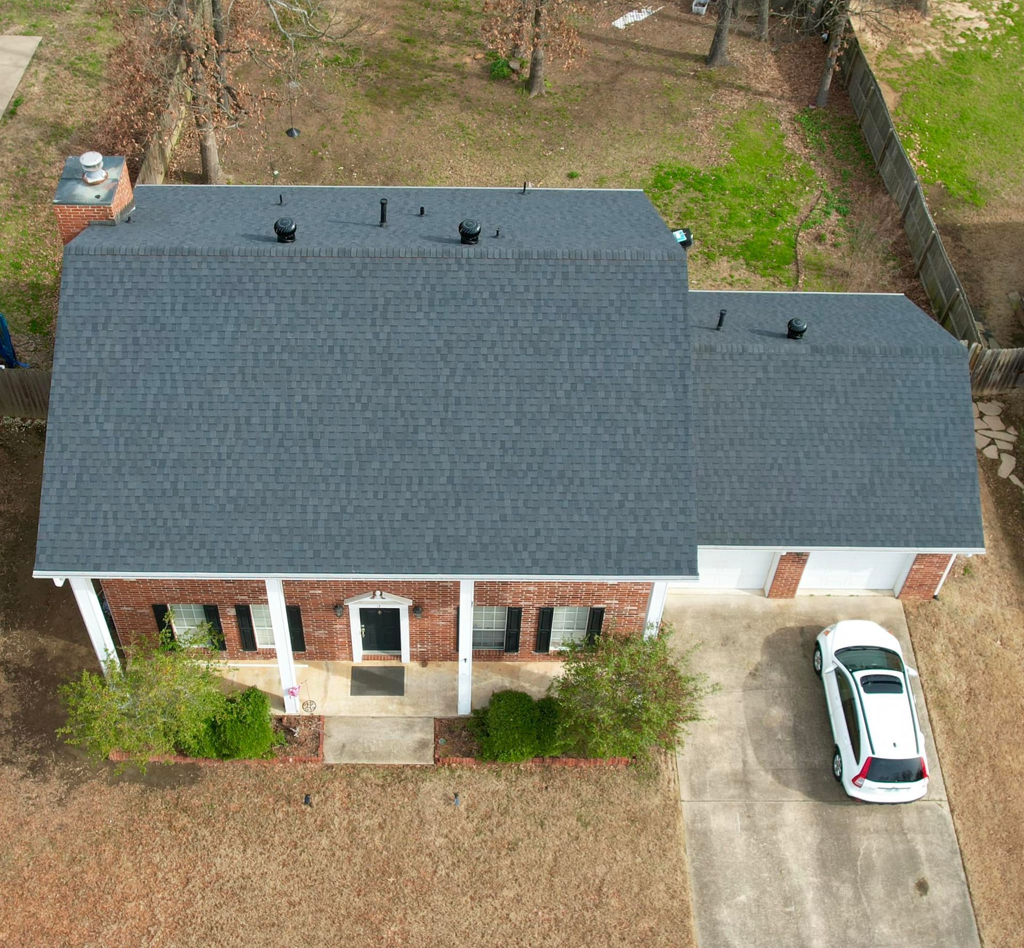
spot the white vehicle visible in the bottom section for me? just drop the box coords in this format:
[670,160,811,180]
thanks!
[813,616,936,807]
